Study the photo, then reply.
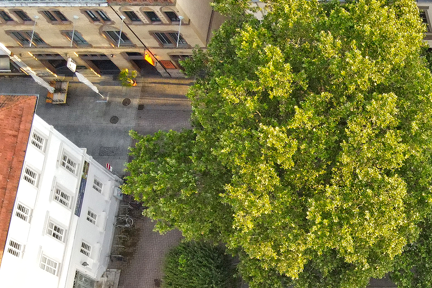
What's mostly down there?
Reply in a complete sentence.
The bulk of the photo consists of trees.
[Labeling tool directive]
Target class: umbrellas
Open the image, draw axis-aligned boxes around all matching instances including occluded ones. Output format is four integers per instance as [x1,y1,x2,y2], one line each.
[27,69,56,94]
[77,73,107,101]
